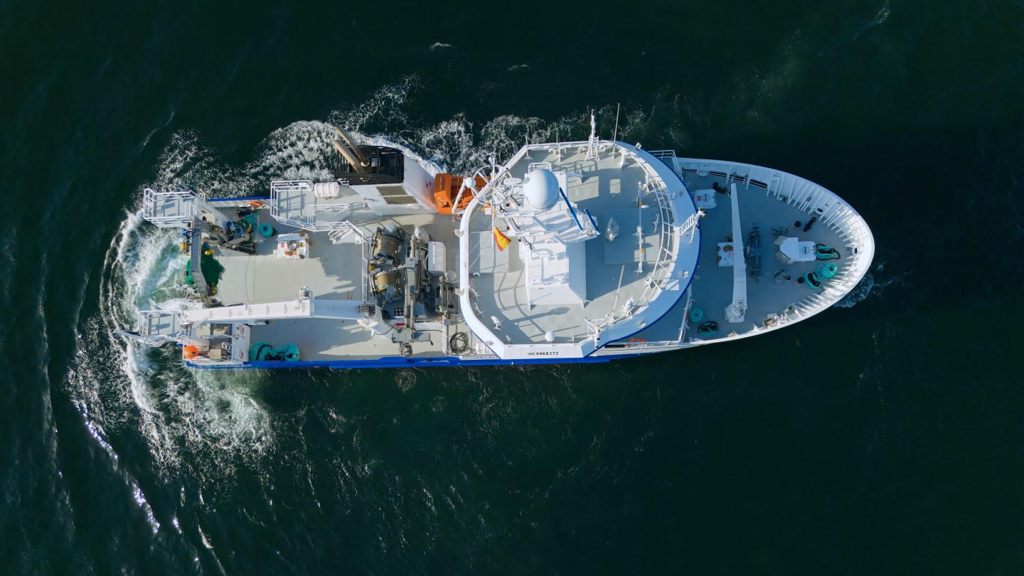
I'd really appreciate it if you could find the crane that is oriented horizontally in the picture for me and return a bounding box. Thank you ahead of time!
[180,286,398,340]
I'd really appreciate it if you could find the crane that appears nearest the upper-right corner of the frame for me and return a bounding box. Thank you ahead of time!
[724,183,752,324]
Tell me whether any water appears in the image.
Yes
